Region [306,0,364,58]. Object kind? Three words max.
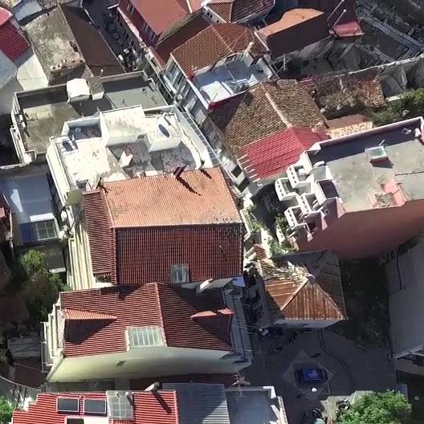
house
